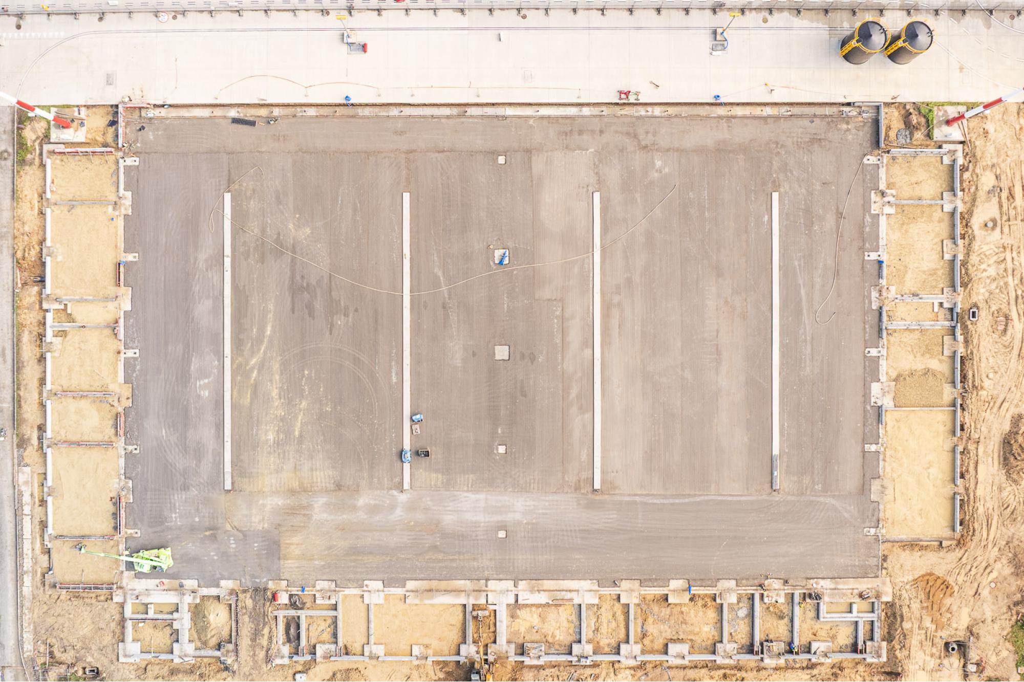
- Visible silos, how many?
2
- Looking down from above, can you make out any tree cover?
No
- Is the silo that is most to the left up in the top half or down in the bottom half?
top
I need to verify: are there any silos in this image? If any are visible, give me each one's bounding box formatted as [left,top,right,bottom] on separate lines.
[885,15,941,64]
[840,15,894,64]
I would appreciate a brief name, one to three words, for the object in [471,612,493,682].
work vehicle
